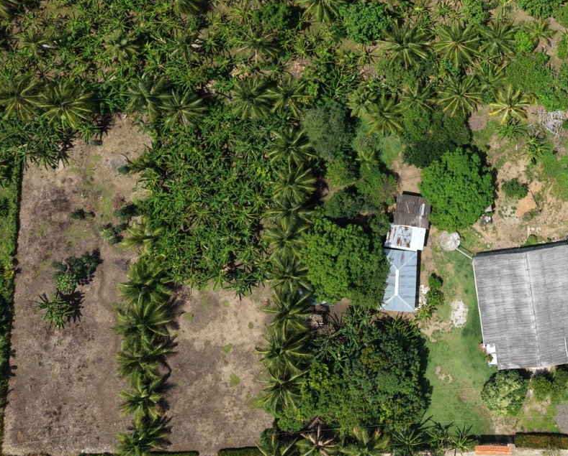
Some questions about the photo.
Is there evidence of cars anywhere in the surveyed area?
No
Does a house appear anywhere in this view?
Yes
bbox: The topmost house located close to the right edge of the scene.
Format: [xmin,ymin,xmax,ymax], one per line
[472,241,568,371]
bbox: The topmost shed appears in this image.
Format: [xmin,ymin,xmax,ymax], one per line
[394,193,430,229]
